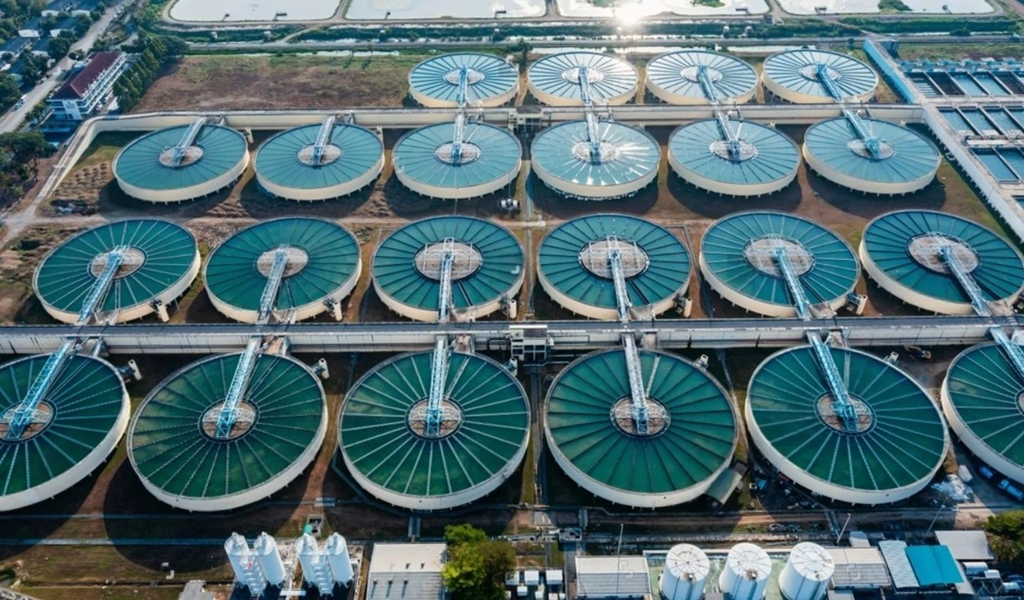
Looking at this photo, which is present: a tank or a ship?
tank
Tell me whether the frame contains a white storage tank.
Yes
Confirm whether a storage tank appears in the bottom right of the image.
Yes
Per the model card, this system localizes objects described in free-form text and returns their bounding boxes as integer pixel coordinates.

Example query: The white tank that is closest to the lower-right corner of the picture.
[781,545,832,600]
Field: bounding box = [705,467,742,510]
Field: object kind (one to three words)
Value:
shed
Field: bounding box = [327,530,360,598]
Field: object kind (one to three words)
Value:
silo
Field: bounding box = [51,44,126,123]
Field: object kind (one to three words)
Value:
building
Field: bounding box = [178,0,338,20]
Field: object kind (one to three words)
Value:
pond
